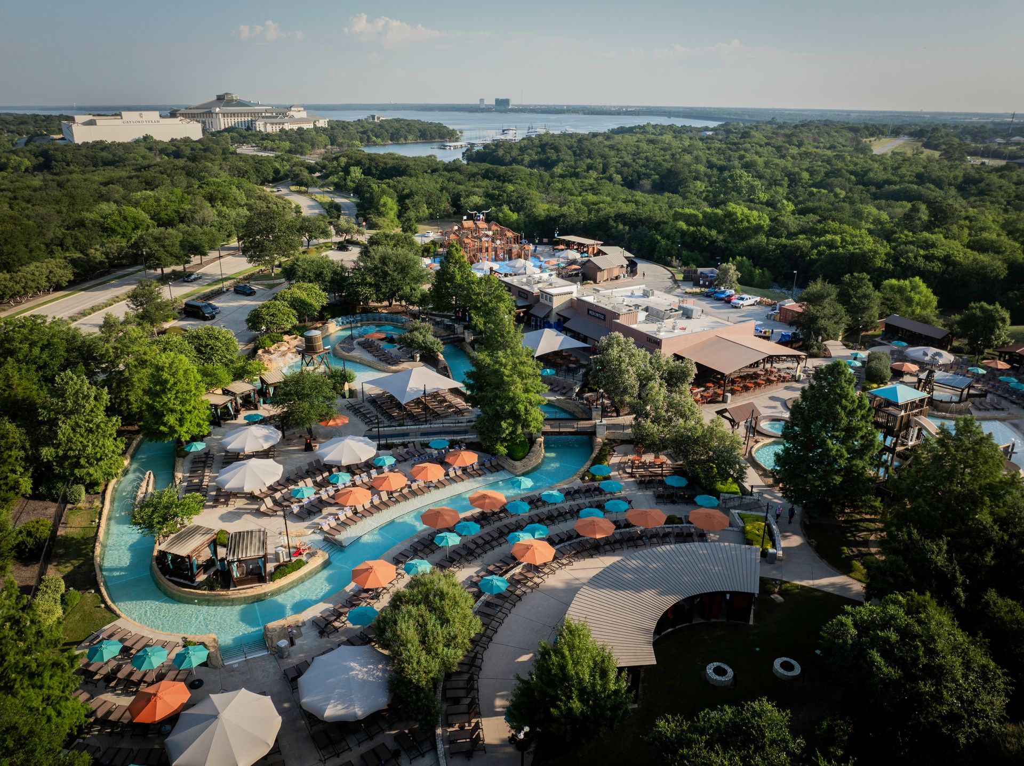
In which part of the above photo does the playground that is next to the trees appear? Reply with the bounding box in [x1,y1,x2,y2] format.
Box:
[441,206,533,275]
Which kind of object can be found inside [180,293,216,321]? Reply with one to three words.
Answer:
van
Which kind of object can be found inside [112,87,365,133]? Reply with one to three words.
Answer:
building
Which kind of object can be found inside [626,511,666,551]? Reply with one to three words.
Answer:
umbrella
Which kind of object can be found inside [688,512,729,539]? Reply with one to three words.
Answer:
umbrella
